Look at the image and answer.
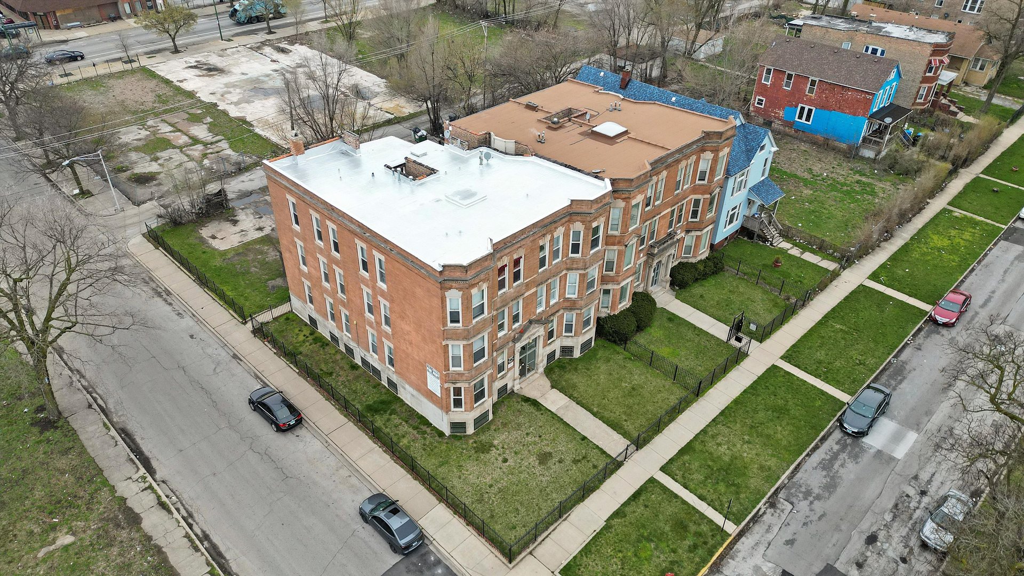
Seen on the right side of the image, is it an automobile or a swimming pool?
automobile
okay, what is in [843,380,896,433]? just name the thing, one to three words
car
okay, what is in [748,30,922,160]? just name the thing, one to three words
house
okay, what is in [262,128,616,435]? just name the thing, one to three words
building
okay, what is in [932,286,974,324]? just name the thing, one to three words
car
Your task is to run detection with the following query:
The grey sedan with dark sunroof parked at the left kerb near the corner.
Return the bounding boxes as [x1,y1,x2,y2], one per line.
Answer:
[355,491,429,560]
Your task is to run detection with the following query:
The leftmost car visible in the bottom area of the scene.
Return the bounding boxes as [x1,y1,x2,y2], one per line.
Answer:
[247,387,306,438]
